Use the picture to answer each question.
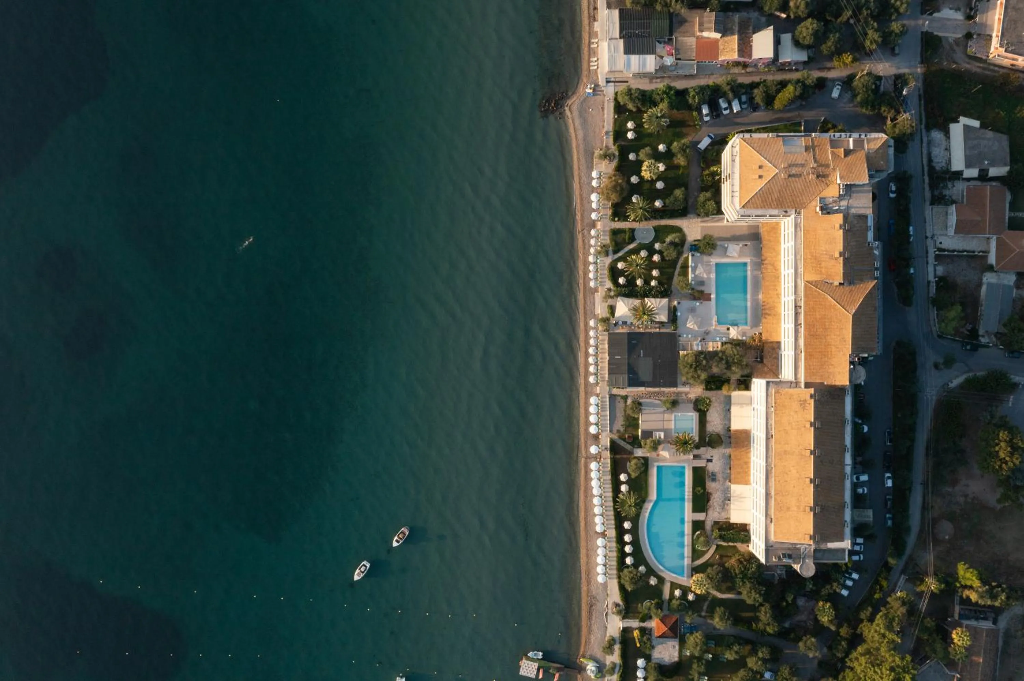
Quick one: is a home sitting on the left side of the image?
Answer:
No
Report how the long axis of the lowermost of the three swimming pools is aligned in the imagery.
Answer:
vertically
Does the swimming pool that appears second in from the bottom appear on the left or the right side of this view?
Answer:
right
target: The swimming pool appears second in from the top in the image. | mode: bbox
[640,404,698,449]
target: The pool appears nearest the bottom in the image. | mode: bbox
[639,456,692,587]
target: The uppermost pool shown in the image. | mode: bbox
[678,243,760,342]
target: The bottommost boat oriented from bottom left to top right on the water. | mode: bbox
[355,560,371,580]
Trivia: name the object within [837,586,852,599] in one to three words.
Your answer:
vehicle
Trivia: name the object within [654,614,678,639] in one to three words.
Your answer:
gazebo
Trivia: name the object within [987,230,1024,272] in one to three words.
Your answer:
house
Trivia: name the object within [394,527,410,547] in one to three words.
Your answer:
boat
